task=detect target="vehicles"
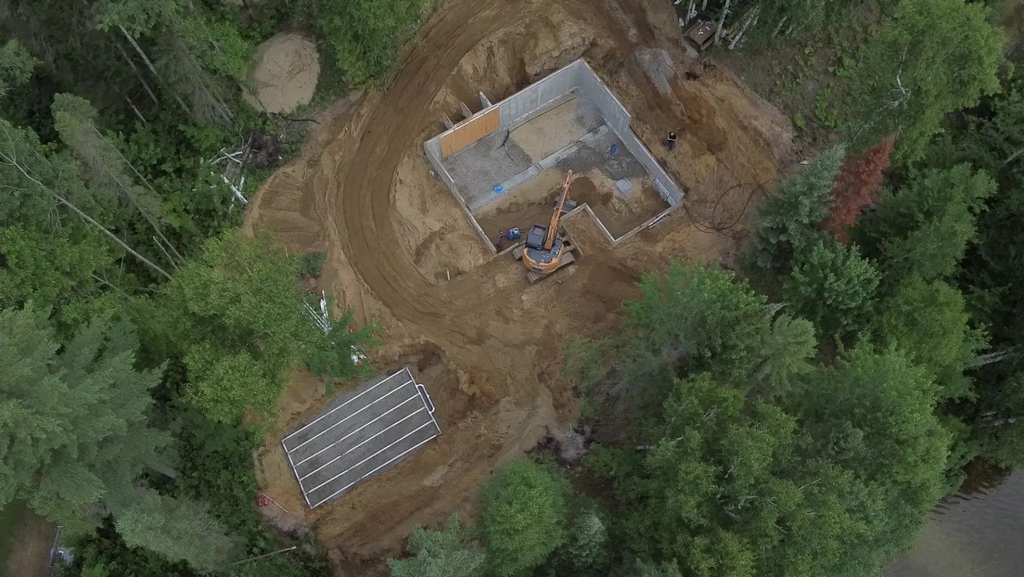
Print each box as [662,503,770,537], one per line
[508,164,586,283]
